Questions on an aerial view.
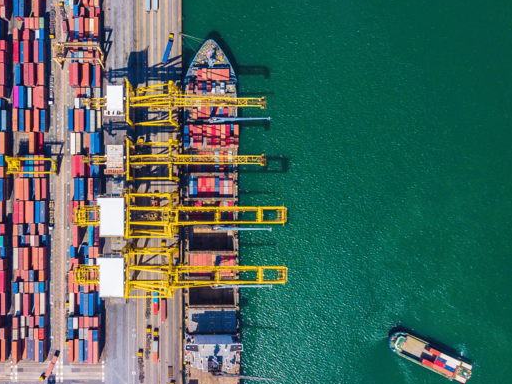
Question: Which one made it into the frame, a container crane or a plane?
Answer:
container crane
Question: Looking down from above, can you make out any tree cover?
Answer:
No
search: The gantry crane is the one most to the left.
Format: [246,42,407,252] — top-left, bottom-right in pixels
[4,155,59,177]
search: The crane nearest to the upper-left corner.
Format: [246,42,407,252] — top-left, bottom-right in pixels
[52,43,105,70]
